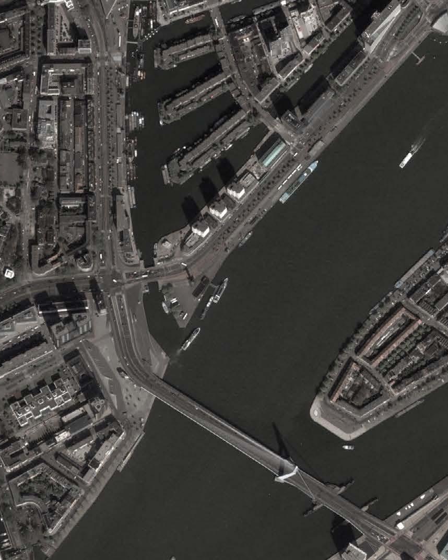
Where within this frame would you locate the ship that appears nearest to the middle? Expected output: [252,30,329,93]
[213,278,228,303]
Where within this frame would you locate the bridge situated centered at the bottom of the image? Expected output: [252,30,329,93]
[109,289,398,546]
